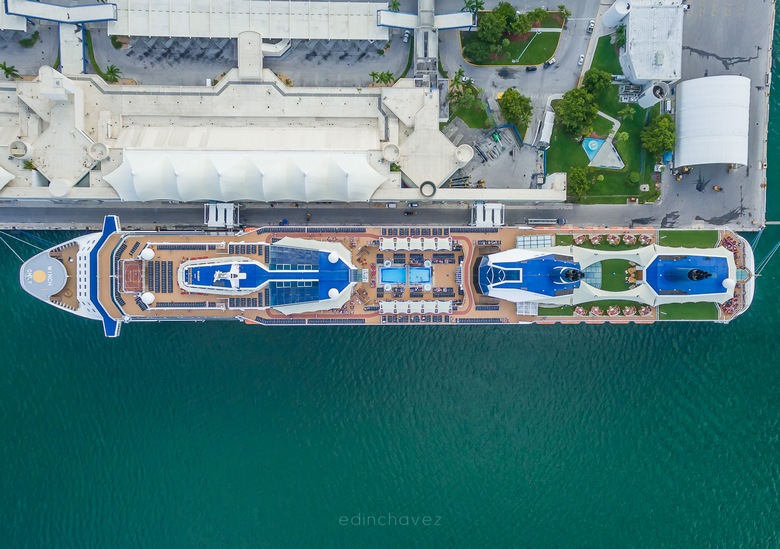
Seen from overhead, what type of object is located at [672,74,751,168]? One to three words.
hangar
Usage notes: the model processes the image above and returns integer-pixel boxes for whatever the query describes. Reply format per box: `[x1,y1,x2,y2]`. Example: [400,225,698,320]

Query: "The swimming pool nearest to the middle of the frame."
[381,267,406,284]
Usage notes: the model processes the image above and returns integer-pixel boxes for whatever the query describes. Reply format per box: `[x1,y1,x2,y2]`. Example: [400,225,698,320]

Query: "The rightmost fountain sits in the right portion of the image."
[582,139,606,161]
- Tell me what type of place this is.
port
